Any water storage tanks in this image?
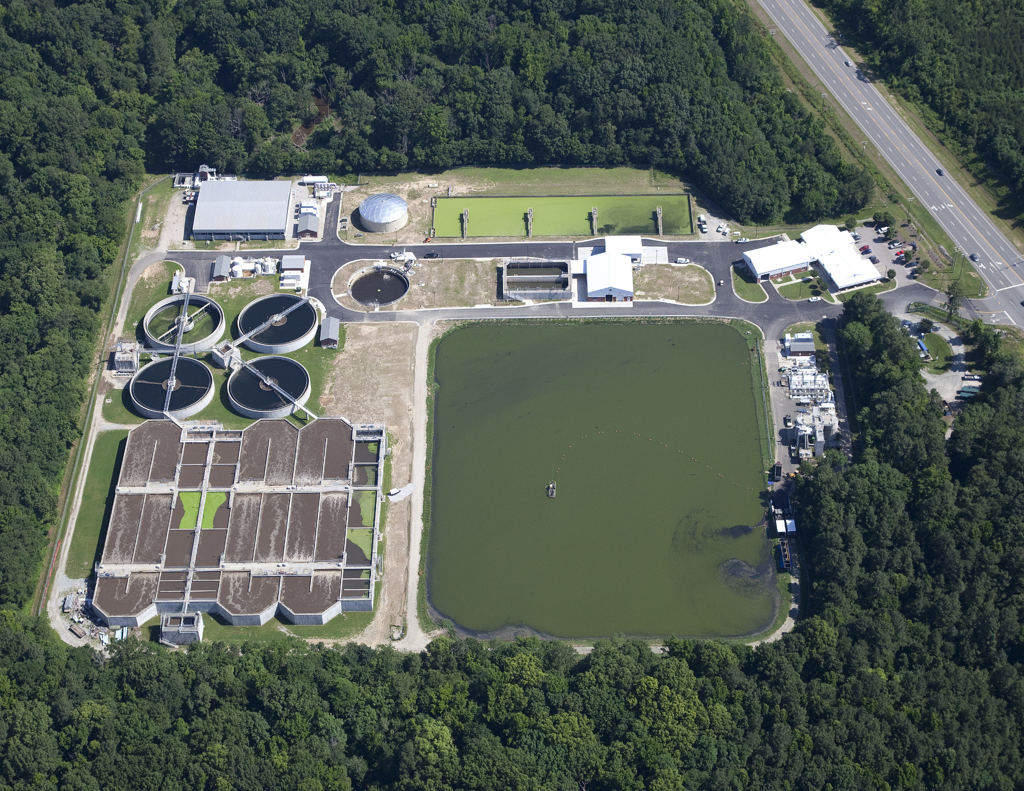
Yes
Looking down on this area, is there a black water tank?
Yes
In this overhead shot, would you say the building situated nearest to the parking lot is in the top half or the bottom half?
top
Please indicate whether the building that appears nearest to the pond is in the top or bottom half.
top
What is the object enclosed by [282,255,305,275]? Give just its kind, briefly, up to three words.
building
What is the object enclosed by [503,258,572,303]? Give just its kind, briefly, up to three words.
water tank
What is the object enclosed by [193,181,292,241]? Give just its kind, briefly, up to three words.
shed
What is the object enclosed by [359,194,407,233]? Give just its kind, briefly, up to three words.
storage tank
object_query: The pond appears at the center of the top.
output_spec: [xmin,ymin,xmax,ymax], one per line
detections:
[430,191,695,237]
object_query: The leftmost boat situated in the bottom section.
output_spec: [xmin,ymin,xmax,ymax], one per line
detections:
[544,480,556,499]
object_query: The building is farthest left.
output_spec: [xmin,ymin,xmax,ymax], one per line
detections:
[109,338,142,377]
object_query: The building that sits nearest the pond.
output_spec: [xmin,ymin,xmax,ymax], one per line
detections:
[586,251,634,302]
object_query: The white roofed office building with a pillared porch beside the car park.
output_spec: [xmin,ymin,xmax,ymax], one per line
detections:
[800,225,881,293]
